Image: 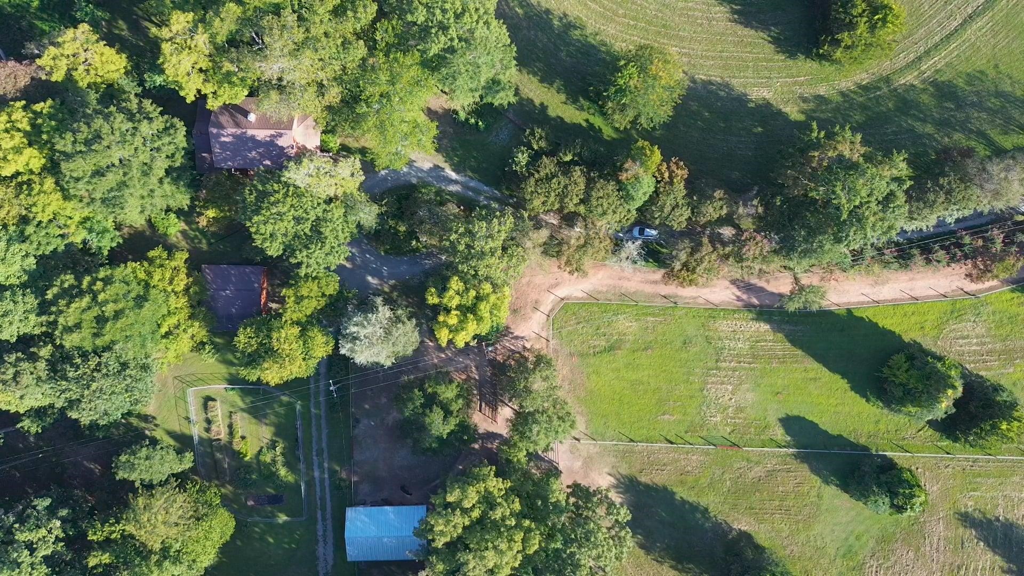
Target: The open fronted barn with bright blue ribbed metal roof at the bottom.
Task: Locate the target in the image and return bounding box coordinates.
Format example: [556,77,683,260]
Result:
[343,501,428,562]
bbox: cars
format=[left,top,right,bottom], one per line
[631,226,659,239]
